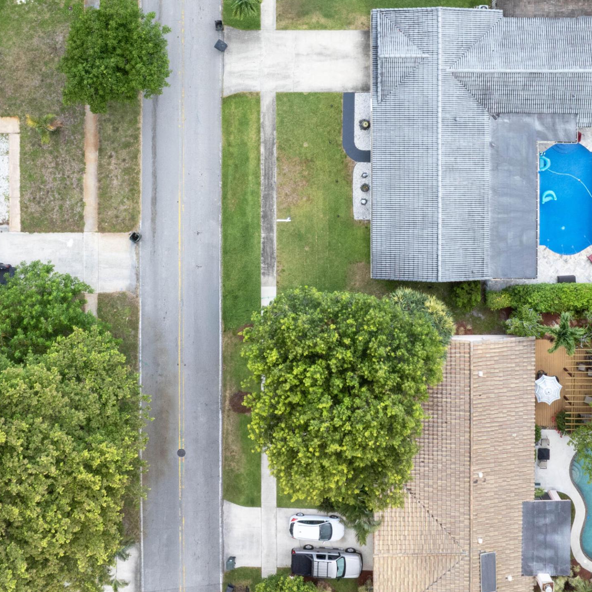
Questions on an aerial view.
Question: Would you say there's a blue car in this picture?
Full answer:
No, this view has no blue car in it.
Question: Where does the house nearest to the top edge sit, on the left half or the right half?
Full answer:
The house nearest to the top edge sits on the right side.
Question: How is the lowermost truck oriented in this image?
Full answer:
The lowermost truck has been laid out from left to right relative to the frame.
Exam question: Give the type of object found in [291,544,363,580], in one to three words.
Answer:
truck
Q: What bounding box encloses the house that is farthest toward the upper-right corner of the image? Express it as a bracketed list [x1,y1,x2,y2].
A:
[370,6,592,283]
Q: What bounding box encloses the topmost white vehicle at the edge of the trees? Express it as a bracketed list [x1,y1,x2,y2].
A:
[290,510,345,544]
